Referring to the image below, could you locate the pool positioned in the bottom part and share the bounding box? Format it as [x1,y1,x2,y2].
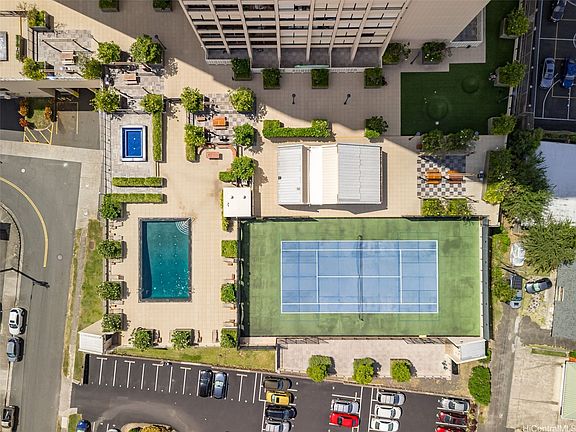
[139,218,193,301]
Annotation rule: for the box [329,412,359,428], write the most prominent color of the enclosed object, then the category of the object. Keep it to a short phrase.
red car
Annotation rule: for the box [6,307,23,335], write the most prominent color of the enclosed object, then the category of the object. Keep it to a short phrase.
white car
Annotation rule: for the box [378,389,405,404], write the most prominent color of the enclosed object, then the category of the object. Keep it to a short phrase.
white car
